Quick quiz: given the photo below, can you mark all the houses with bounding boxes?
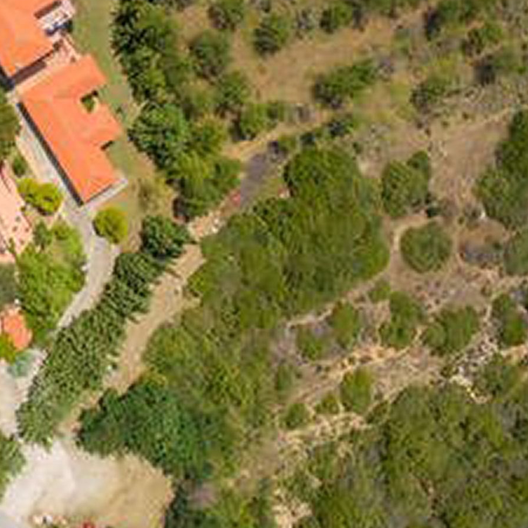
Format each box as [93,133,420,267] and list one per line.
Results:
[0,0,53,76]
[19,54,123,203]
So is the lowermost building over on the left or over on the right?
left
